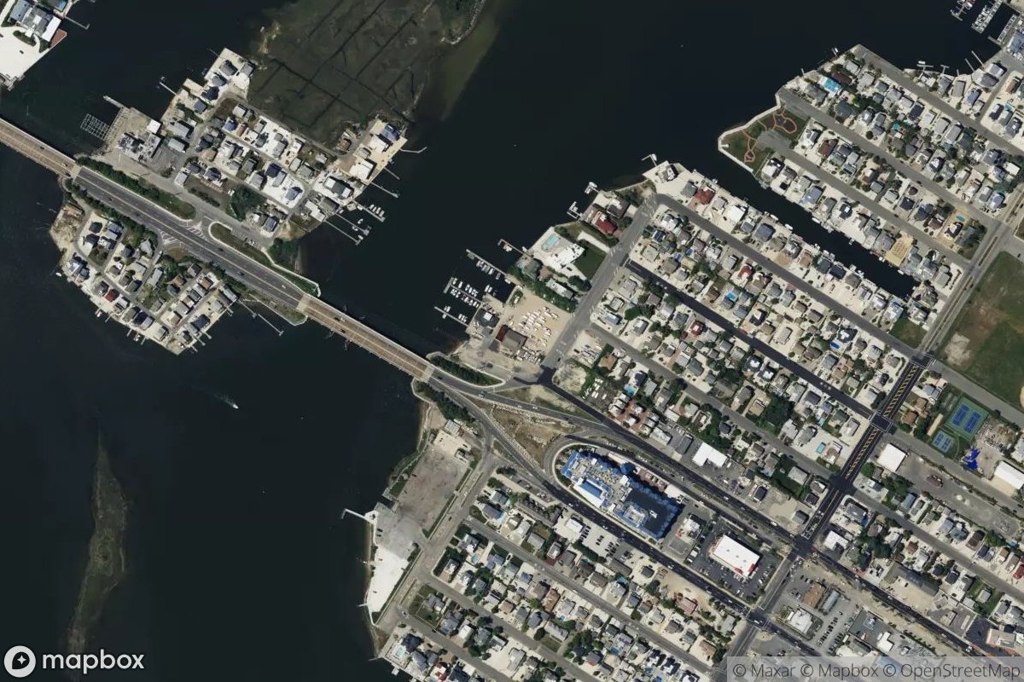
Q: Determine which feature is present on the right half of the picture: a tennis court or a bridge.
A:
tennis court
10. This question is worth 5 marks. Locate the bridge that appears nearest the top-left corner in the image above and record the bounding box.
[0,119,78,176]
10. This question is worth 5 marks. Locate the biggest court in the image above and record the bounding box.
[945,396,989,443]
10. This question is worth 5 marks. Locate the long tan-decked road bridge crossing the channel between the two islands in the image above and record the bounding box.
[299,295,434,379]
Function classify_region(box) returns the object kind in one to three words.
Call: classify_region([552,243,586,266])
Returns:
house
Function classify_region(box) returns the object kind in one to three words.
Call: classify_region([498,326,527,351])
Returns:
shed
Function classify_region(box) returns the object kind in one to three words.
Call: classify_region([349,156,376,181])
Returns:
house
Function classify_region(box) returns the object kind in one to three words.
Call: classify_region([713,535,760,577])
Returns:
building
